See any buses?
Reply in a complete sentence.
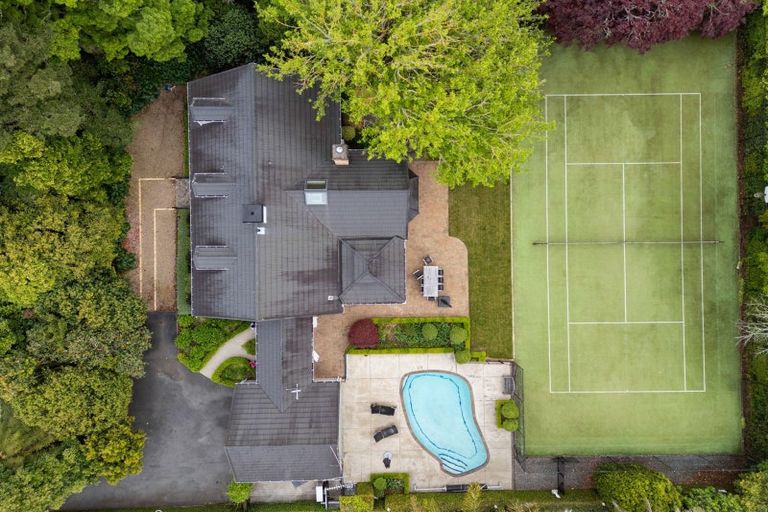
No, there isn't any bus down there.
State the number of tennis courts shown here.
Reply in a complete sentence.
I count 1 tennis court.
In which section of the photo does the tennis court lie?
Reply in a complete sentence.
The tennis court sits in the right section of the image.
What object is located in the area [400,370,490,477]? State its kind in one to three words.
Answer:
swimming pool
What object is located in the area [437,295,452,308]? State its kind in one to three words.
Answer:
umbrella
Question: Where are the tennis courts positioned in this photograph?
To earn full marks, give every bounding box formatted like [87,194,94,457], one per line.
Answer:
[512,12,742,457]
